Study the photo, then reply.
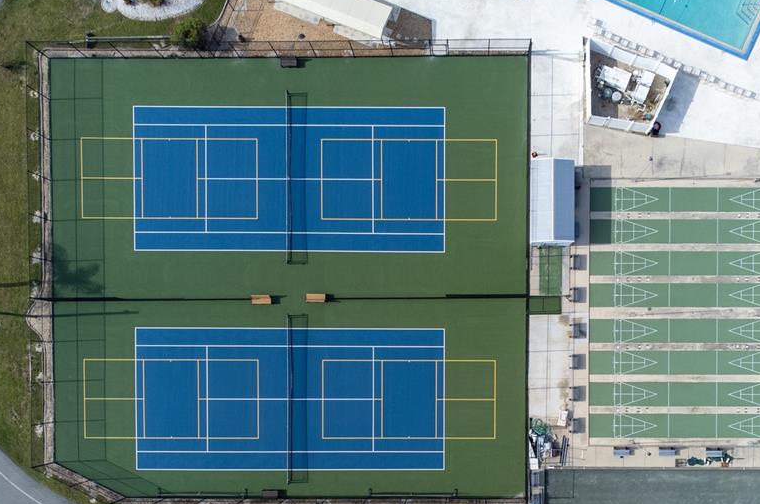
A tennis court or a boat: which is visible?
tennis court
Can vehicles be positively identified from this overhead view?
No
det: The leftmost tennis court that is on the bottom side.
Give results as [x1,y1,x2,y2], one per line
[52,297,526,500]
